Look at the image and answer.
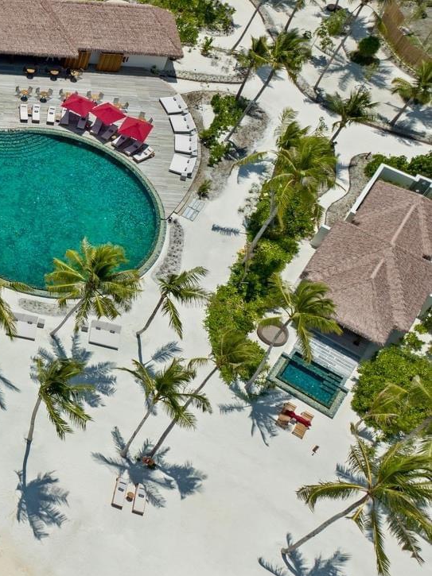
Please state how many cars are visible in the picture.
zero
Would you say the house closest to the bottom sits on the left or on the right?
right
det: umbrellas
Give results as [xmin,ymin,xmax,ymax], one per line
[118,114,154,147]
[91,98,127,131]
[61,91,98,123]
